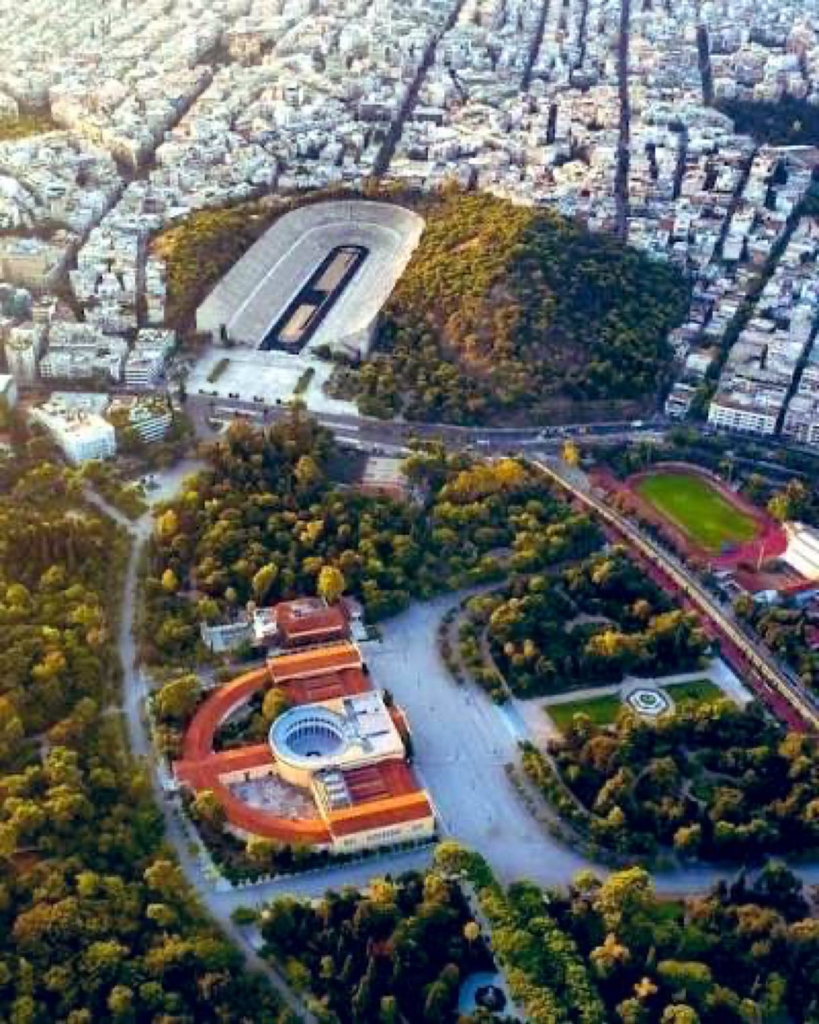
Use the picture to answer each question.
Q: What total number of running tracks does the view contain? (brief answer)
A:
2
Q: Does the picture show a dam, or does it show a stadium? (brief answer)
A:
stadium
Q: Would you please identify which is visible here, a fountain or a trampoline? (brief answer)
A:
fountain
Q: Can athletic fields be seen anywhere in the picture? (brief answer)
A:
Yes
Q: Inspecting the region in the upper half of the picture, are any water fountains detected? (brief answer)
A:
No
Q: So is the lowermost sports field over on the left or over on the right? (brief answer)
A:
right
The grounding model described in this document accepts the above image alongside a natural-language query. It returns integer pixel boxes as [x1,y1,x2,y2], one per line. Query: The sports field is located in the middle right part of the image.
[636,470,764,551]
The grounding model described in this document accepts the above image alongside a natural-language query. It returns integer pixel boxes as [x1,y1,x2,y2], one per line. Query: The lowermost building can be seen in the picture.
[168,643,435,860]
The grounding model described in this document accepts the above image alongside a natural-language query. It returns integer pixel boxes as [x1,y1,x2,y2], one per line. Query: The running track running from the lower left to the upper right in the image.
[258,246,369,354]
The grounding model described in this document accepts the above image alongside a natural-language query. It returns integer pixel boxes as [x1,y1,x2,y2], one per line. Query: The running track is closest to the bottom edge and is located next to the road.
[621,459,788,566]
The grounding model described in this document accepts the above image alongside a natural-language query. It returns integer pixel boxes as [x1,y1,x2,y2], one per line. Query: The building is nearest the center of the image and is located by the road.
[362,457,408,487]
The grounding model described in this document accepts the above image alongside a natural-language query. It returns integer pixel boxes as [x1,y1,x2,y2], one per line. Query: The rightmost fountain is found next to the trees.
[619,681,675,719]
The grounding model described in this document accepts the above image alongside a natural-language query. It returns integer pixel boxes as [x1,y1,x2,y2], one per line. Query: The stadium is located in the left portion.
[195,198,426,354]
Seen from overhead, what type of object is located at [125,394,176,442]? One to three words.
building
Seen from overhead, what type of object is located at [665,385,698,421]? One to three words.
building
